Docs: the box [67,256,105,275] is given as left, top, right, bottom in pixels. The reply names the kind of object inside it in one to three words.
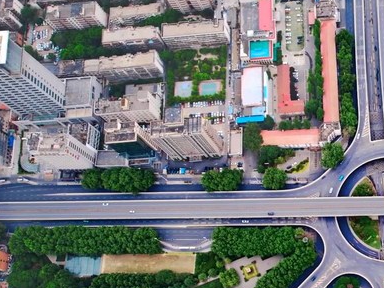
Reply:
shed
